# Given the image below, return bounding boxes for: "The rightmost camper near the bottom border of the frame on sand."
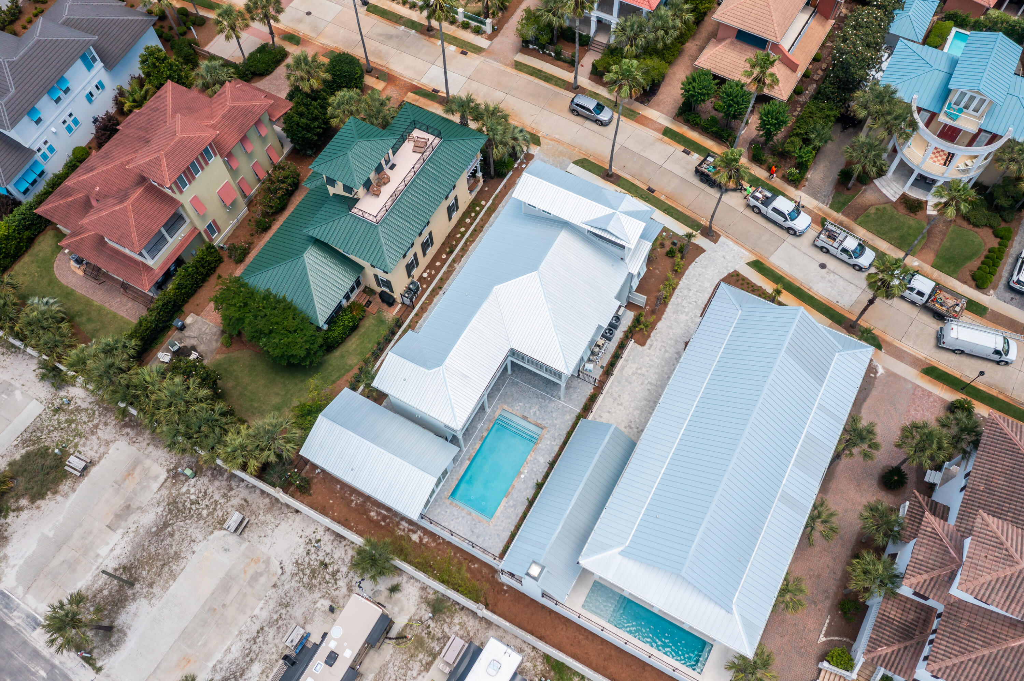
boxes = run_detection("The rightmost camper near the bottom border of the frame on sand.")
[446,637,523,681]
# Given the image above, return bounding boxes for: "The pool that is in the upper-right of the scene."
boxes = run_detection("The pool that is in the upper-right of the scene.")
[943,30,968,56]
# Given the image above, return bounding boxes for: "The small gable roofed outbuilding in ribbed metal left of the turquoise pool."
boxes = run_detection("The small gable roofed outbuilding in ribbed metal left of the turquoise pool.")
[298,387,462,528]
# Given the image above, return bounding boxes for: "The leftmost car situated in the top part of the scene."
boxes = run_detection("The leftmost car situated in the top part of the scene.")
[568,91,616,126]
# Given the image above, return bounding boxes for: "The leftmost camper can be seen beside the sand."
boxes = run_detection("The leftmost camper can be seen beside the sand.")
[283,594,390,681]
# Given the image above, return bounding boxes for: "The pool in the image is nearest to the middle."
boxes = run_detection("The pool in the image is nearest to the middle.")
[443,404,548,527]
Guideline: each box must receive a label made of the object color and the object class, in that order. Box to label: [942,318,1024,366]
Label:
white van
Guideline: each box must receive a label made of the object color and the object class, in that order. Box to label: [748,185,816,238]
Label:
white truck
